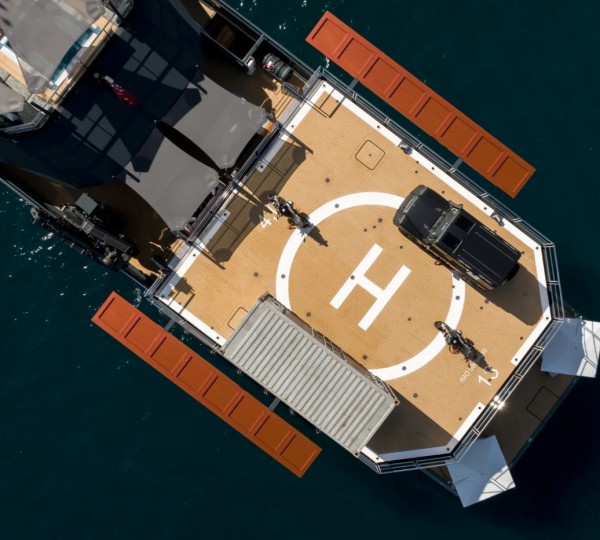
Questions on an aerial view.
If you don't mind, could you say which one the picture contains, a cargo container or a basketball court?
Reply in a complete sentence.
It is a cargo container that can be seen here.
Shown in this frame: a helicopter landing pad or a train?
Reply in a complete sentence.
The one in the frame is a helicopter landing pad.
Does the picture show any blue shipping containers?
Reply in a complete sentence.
No, there is no blue shipping container in the image.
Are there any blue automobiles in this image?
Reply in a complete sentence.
No, the frame has no blue automobile in it.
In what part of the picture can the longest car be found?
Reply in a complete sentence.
The longest car sits in the right section of the image.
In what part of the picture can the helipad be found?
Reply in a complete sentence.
The helipad appears toward the center of the photo.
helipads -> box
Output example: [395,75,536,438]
[145,65,570,474]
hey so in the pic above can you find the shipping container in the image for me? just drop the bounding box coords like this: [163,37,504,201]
[221,293,398,458]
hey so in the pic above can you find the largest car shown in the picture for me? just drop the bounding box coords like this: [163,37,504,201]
[396,187,517,291]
